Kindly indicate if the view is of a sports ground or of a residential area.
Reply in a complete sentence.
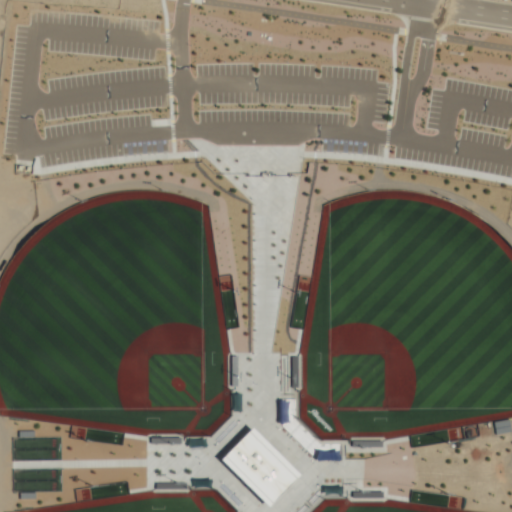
The picture captures a sports ground.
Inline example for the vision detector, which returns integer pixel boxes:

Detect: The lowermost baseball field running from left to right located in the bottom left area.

[8,490,230,512]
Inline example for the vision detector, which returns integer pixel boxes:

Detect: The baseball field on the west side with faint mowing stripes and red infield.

[0,190,232,438]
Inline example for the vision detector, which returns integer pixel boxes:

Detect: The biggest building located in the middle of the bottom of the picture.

[223,429,301,507]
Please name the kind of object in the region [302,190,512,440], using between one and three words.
baseball field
